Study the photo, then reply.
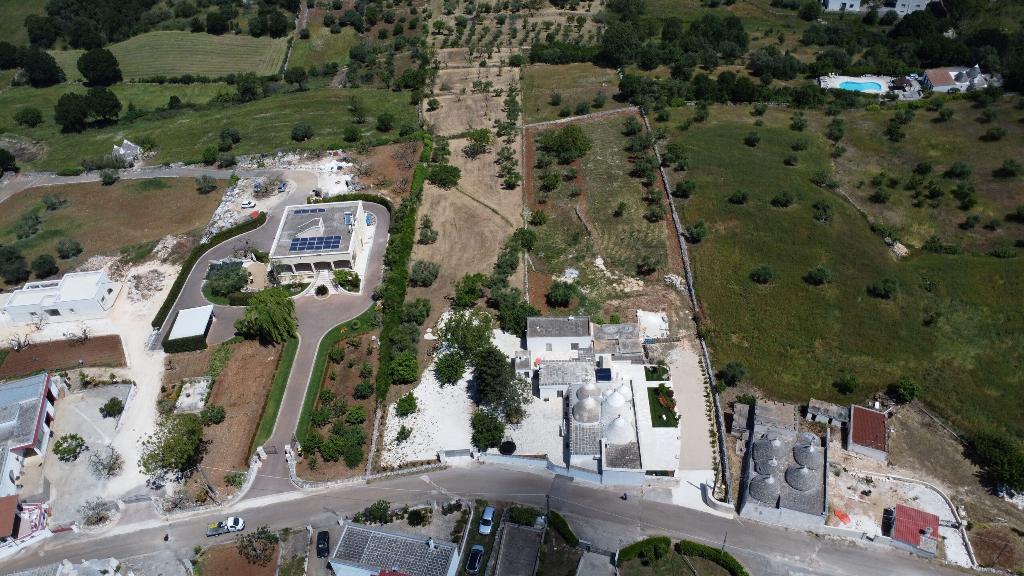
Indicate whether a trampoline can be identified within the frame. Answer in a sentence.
Yes, there's a trampoline down there.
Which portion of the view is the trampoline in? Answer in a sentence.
The trampoline is located in the bottom region of the scene.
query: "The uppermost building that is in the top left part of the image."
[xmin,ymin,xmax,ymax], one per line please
[110,138,143,166]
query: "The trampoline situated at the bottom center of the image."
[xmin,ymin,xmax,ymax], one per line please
[495,432,521,456]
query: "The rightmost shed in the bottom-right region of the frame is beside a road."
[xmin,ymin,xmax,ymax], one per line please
[885,504,939,570]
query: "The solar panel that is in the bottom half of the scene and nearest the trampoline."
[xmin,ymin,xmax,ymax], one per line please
[595,365,614,383]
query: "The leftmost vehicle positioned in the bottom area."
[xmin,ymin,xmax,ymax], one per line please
[206,517,245,541]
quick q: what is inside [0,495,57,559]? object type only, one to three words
house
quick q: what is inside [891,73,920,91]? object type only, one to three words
gazebo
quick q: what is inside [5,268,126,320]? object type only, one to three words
house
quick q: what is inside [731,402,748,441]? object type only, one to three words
shed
